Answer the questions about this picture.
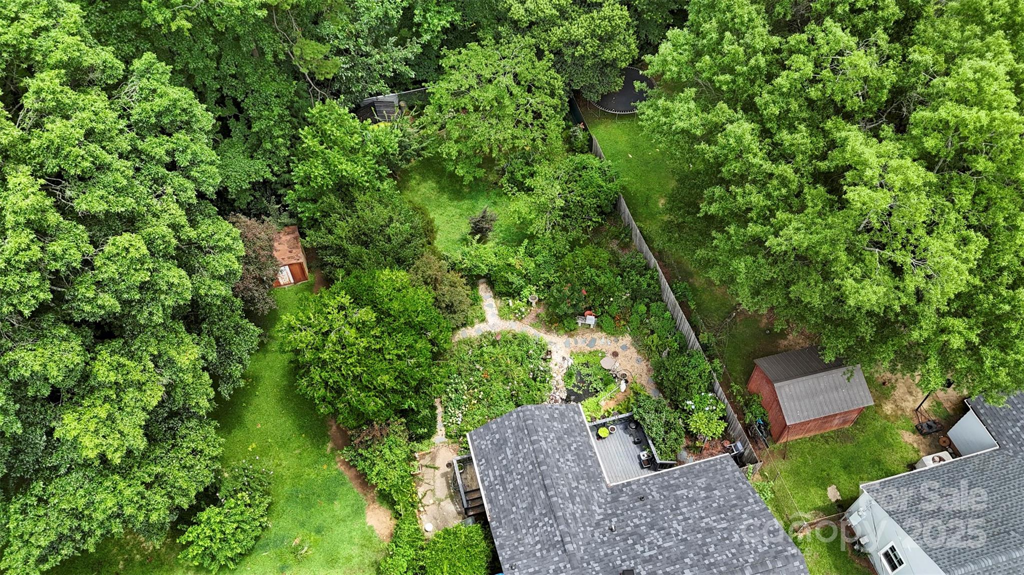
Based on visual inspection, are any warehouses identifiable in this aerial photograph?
No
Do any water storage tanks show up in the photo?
No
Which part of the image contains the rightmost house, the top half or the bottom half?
bottom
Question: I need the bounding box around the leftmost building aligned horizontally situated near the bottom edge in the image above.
[464,406,808,575]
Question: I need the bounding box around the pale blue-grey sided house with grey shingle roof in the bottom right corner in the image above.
[849,376,1024,575]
